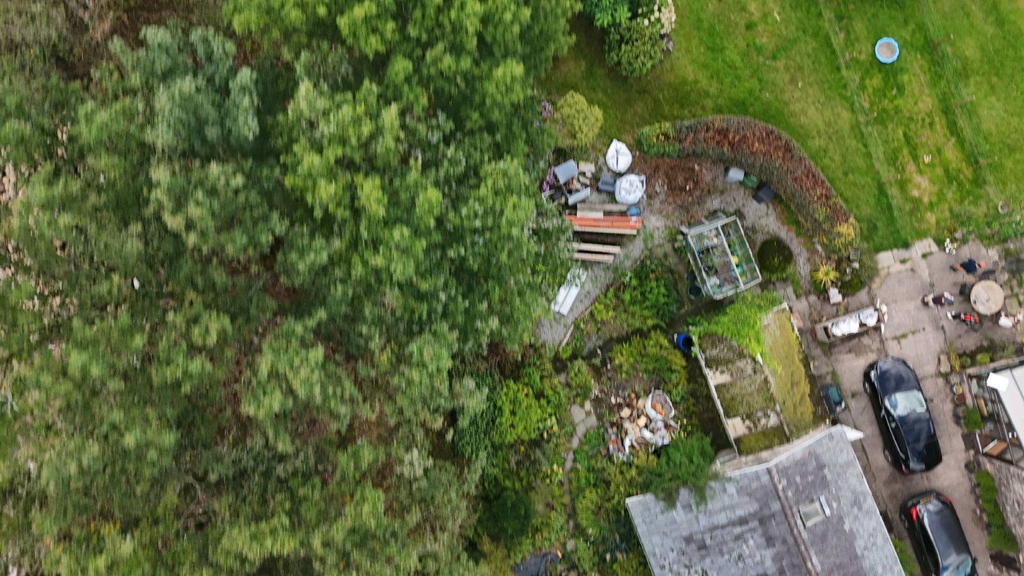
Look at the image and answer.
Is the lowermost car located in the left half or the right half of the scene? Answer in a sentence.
The lowermost car appears in the right half of the scene.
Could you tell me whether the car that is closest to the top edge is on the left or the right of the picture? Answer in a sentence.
You can find the car that is closest to the top edge on the right side of the picture.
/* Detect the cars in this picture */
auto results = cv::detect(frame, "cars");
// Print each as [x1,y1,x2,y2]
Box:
[863,353,947,481]
[902,490,982,576]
